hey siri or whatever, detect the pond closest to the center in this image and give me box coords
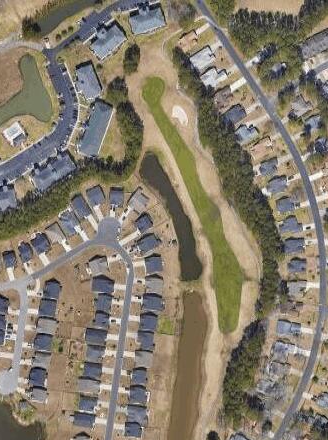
[141,153,203,282]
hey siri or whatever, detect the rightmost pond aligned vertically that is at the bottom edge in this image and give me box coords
[166,291,207,440]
